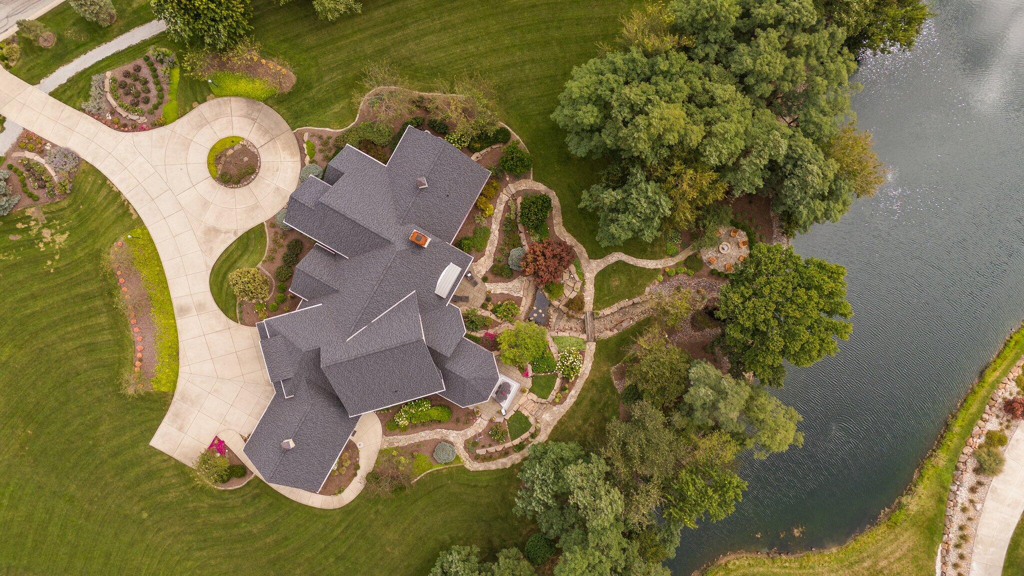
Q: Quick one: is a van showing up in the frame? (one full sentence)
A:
No, I can't see a single van in this photo.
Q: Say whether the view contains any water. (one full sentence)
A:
Yes, some water is visible.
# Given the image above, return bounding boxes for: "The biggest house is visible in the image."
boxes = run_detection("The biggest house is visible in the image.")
[242,124,500,493]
